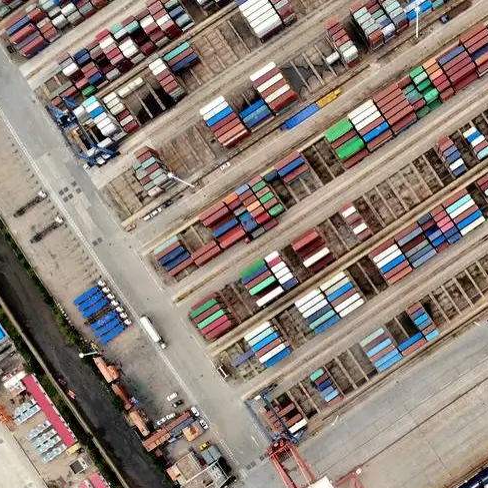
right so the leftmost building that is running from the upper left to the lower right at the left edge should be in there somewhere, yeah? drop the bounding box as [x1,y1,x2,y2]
[21,374,76,448]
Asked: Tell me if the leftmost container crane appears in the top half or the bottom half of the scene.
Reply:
top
